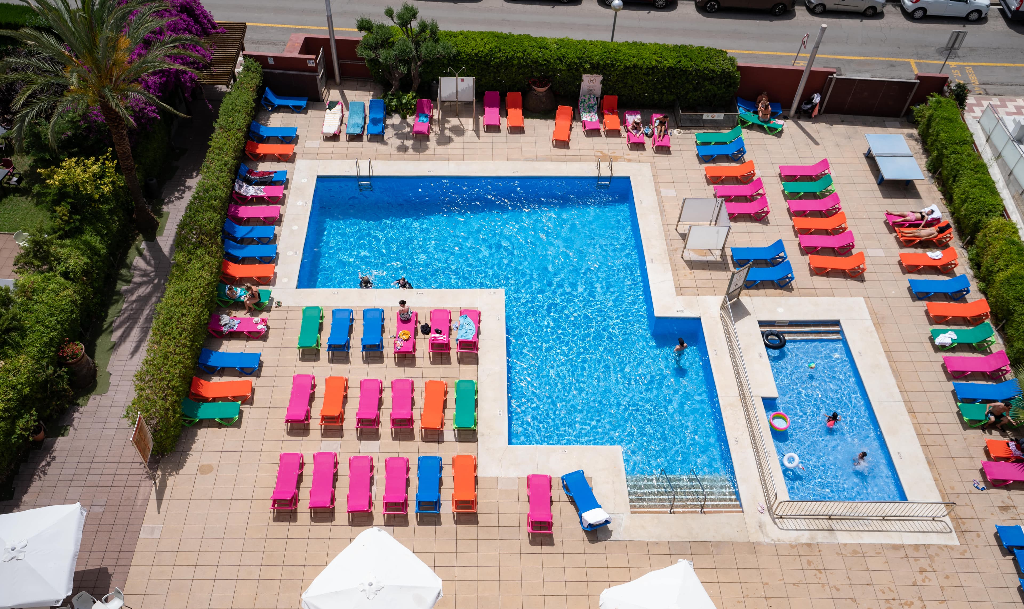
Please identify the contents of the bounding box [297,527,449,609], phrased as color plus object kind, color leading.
white umbrella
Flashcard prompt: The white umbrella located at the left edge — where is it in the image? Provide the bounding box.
[0,500,86,609]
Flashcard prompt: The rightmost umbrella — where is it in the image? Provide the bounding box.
[595,556,718,609]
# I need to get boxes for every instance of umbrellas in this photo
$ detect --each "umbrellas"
[0,500,86,609]
[297,527,449,609]
[595,556,718,609]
